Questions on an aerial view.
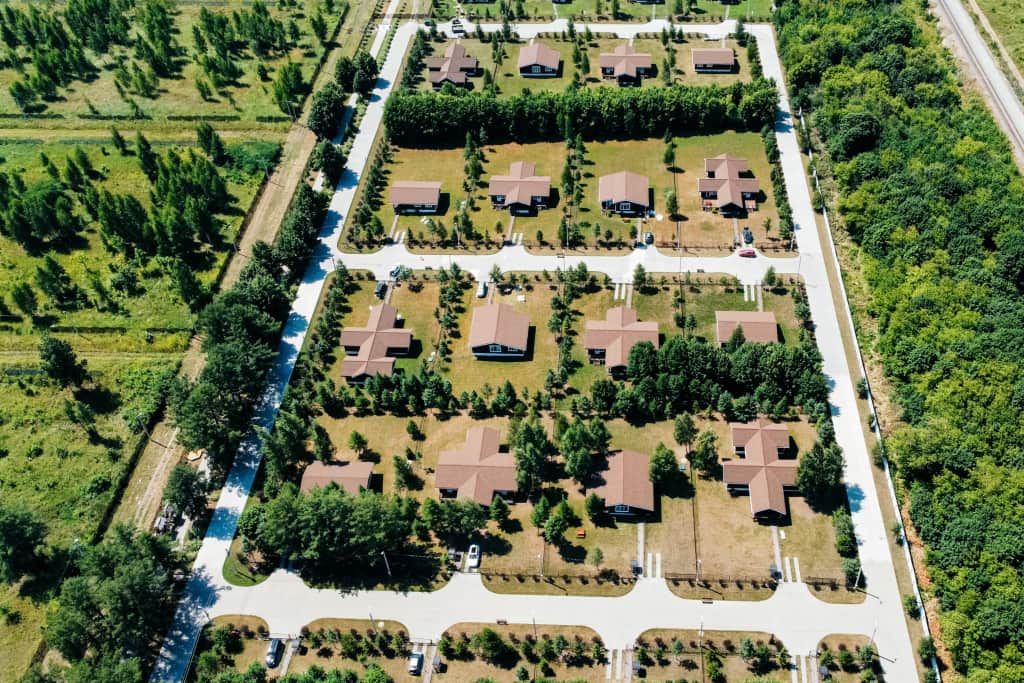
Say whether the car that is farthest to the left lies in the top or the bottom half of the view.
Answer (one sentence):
Seen from above, the car that is farthest to the left lies in the bottom half of the view.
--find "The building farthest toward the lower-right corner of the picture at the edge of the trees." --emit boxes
[724,420,804,528]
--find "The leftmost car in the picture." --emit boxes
[262,637,284,666]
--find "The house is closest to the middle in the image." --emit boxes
[467,303,531,362]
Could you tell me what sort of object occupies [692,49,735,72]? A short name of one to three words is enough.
house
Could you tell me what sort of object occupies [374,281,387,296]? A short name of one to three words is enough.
vehicle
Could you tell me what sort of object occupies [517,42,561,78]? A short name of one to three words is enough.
house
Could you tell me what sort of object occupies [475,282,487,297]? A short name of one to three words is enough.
vehicle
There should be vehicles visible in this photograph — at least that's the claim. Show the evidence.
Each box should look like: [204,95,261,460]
[388,265,401,277]
[262,637,284,666]
[645,233,653,244]
[452,24,466,32]
[407,646,425,675]
[451,19,463,24]
[475,282,487,297]
[738,248,756,256]
[466,543,481,568]
[374,281,387,296]
[743,229,753,242]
